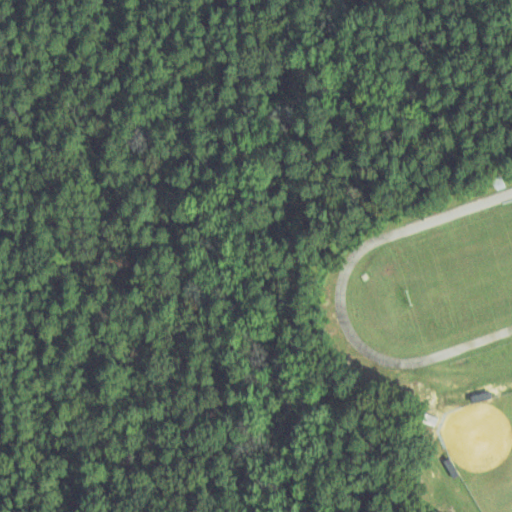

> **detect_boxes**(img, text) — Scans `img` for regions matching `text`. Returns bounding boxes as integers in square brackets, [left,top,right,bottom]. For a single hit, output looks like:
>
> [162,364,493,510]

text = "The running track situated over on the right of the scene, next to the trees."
[336,190,512,371]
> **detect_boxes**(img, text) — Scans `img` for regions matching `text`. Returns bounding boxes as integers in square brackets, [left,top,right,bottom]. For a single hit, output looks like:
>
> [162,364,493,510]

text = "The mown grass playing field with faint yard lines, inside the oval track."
[345,204,512,360]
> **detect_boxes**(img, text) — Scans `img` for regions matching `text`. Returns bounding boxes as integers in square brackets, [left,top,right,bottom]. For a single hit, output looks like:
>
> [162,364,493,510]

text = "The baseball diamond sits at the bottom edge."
[440,390,512,512]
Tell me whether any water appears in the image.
No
